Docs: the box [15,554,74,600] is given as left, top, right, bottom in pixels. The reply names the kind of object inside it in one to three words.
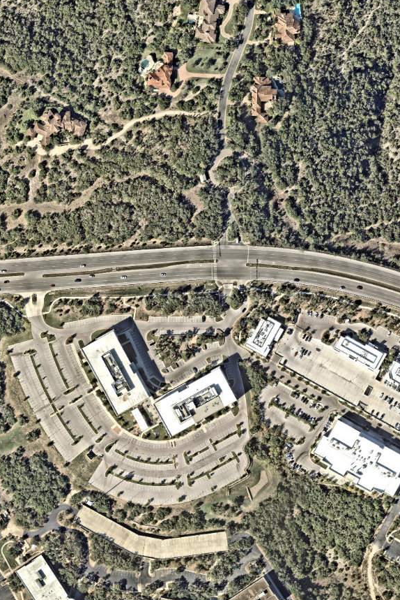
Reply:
building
